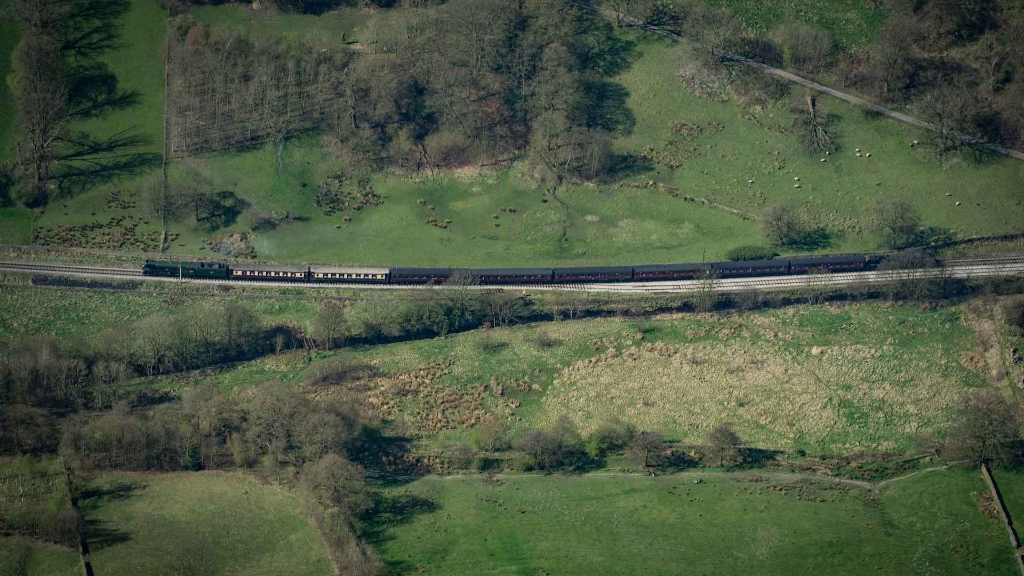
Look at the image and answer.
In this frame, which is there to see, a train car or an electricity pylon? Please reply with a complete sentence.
Of the two, only a train car appears.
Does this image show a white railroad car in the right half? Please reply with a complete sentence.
No, no white railroad car appears in the right half.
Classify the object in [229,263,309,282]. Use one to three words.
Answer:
rail car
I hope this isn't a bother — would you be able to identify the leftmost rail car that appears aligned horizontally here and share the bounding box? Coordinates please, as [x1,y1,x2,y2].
[142,259,198,277]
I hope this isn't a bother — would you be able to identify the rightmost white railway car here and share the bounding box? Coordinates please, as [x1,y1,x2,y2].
[310,267,391,284]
